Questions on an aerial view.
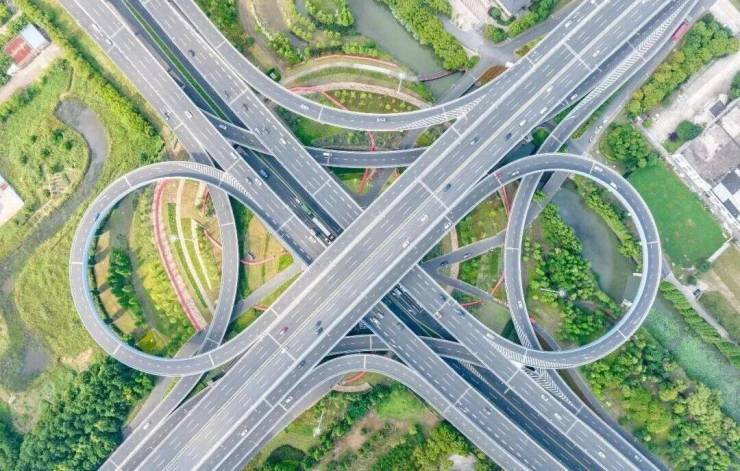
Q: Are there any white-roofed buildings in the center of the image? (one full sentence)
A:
No, I see no white-roofed building in the center of the image.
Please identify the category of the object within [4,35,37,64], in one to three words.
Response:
house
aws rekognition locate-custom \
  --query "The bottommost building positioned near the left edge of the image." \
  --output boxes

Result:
[0,164,32,227]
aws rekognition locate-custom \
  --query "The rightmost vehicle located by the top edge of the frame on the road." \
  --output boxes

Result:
[673,19,694,43]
